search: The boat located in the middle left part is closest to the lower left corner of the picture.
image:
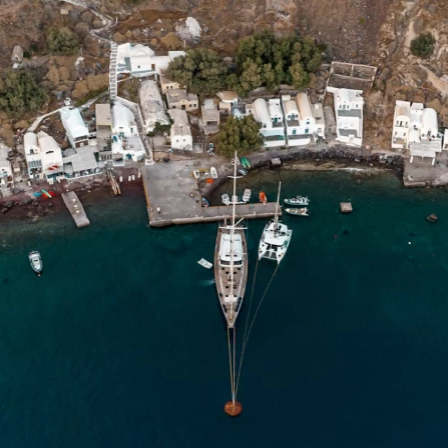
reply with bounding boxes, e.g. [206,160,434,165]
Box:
[29,248,42,274]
